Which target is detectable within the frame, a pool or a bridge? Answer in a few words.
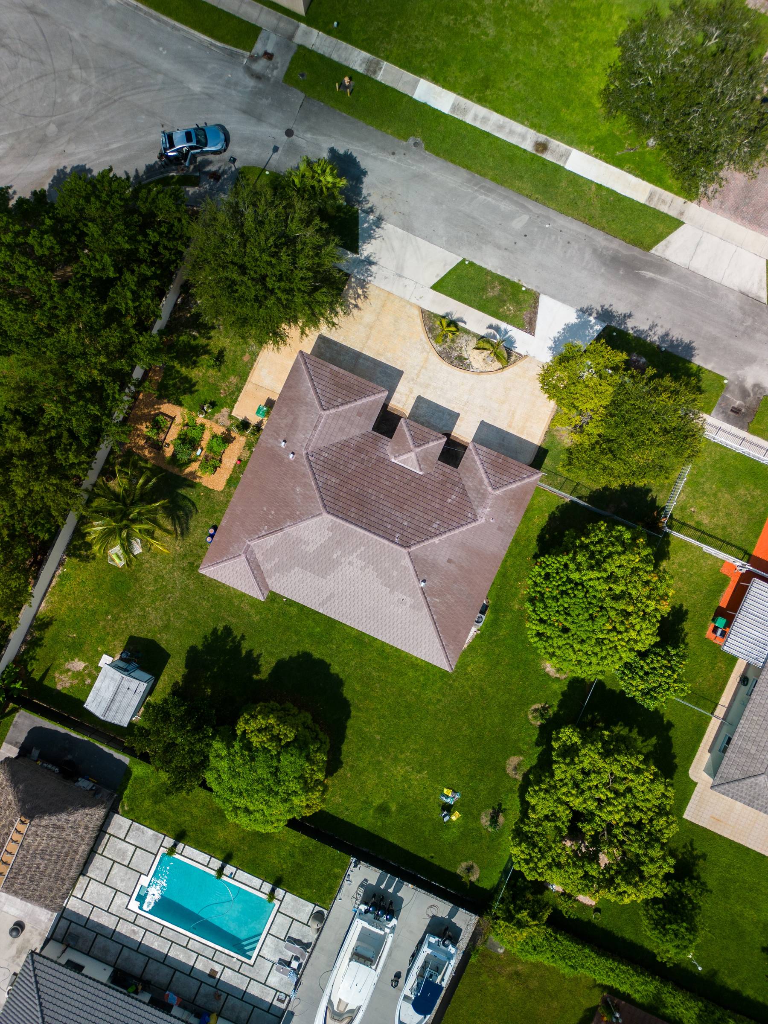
pool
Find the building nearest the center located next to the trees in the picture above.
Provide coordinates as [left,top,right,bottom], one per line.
[198,349,543,674]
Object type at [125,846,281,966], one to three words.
swimming pool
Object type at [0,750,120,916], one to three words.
shed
